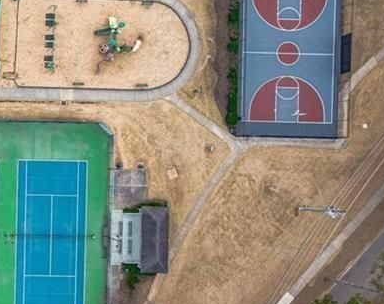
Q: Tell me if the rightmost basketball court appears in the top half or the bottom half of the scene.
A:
top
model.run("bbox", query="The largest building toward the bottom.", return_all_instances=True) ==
[118,206,169,273]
